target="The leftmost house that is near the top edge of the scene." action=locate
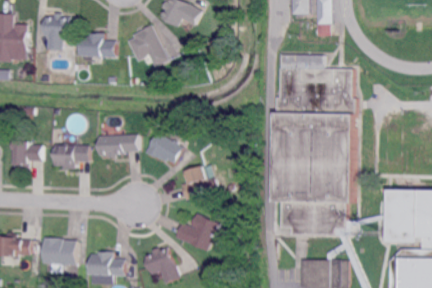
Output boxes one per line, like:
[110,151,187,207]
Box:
[0,13,28,62]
